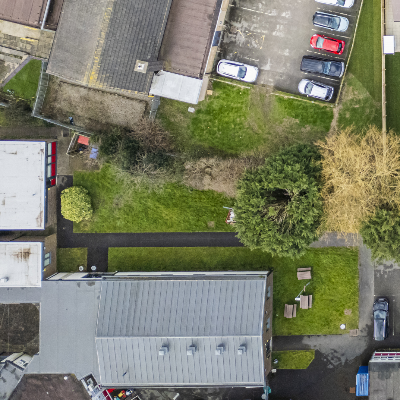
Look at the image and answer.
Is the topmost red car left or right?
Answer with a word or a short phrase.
right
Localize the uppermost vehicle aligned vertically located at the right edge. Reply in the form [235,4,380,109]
[372,297,390,341]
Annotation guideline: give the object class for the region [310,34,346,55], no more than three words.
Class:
car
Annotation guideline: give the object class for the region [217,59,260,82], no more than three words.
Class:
car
